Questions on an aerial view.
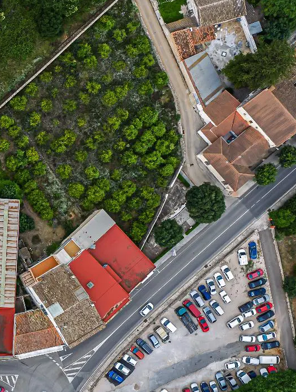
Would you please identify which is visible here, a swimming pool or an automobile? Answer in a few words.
automobile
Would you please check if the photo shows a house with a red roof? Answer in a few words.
Yes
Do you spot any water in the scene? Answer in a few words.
No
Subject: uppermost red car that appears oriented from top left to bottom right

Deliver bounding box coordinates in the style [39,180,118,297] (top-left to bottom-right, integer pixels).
[185,300,199,315]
